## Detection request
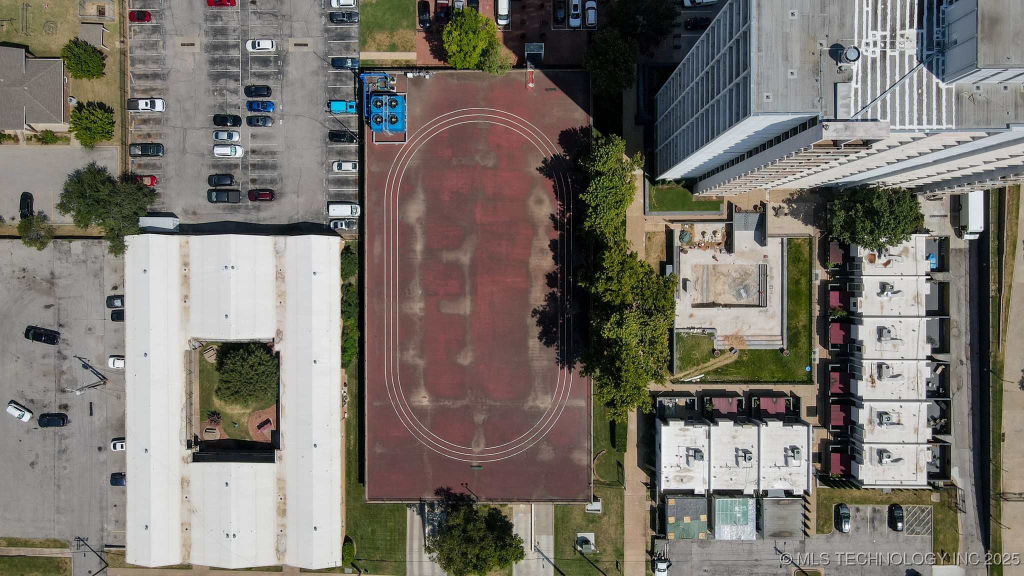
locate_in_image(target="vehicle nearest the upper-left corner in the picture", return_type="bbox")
[130,10,154,23]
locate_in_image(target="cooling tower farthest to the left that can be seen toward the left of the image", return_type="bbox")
[360,74,409,145]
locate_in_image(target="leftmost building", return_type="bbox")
[0,46,72,133]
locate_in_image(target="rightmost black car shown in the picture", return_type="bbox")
[890,503,904,530]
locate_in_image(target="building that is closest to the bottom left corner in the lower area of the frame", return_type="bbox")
[124,235,349,566]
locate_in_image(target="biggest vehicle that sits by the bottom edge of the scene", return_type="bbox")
[654,538,674,575]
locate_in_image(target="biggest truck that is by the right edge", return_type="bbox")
[958,190,988,238]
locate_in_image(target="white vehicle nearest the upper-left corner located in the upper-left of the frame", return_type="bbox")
[127,96,167,112]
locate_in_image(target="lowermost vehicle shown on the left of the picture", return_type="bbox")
[112,472,127,486]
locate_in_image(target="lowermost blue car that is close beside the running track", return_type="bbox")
[328,100,358,113]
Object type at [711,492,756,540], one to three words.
building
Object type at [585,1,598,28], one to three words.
vehicle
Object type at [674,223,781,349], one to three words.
swimming pool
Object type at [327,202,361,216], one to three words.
vehicle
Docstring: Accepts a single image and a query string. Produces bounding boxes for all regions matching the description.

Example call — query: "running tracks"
[364,69,592,503]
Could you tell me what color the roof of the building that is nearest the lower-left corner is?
white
